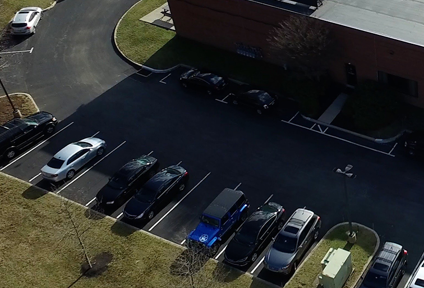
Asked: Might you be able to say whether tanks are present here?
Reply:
No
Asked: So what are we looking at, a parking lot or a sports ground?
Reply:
parking lot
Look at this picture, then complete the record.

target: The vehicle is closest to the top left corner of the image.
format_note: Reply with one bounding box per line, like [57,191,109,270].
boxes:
[5,10,47,39]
